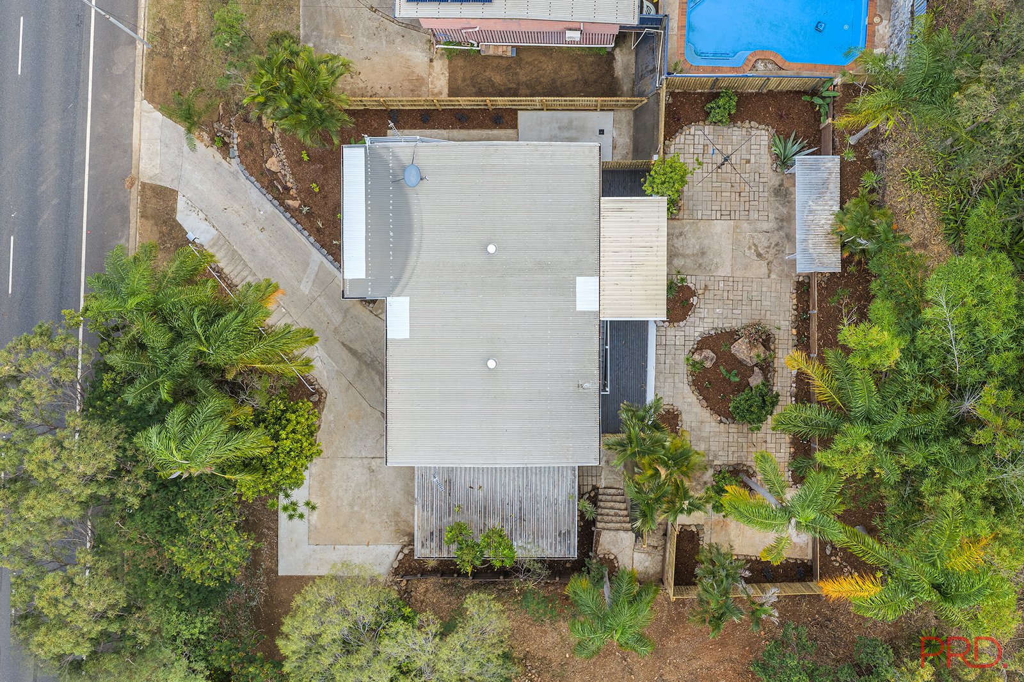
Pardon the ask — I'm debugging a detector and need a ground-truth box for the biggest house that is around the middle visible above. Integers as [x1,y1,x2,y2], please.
[340,135,603,468]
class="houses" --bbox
[340,135,603,468]
[395,0,642,48]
